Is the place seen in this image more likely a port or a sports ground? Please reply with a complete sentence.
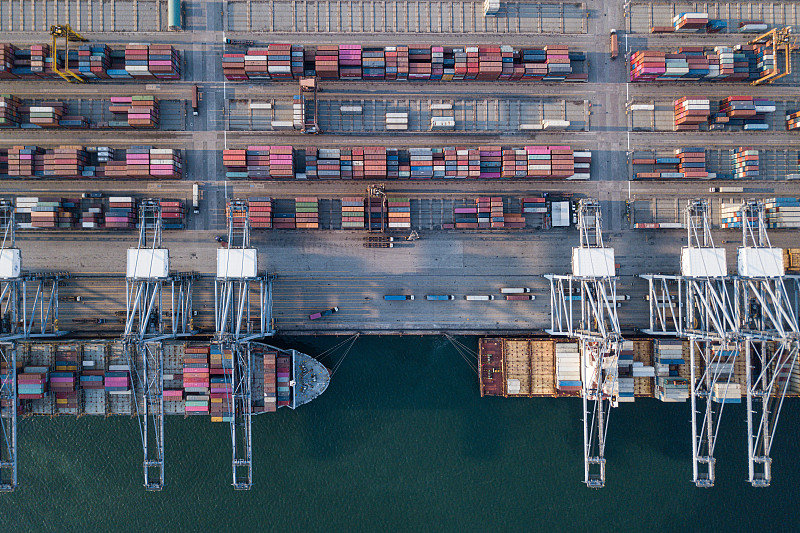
This looks like a port.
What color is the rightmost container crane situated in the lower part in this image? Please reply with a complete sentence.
In this view, the rightmost container crane situated in the lower part is white.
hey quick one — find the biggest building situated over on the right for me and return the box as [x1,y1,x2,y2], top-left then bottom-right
[551,202,570,226]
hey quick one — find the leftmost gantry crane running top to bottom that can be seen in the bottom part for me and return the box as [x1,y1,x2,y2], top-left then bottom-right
[0,197,86,494]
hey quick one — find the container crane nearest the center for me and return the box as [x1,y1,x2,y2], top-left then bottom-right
[366,183,386,234]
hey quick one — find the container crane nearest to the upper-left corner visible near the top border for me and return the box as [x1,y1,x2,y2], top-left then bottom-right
[48,24,86,84]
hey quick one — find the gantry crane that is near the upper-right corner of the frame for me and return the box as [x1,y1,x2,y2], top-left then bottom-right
[751,29,790,85]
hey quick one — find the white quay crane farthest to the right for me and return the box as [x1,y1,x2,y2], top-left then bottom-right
[698,198,800,491]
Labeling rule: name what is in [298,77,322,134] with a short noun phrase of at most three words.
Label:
container crane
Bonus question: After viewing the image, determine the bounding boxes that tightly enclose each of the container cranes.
[634,198,745,491]
[0,197,86,494]
[751,29,790,85]
[698,198,800,491]
[116,197,212,493]
[366,183,386,234]
[48,24,86,84]
[212,197,288,492]
[298,77,322,134]
[538,198,623,491]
